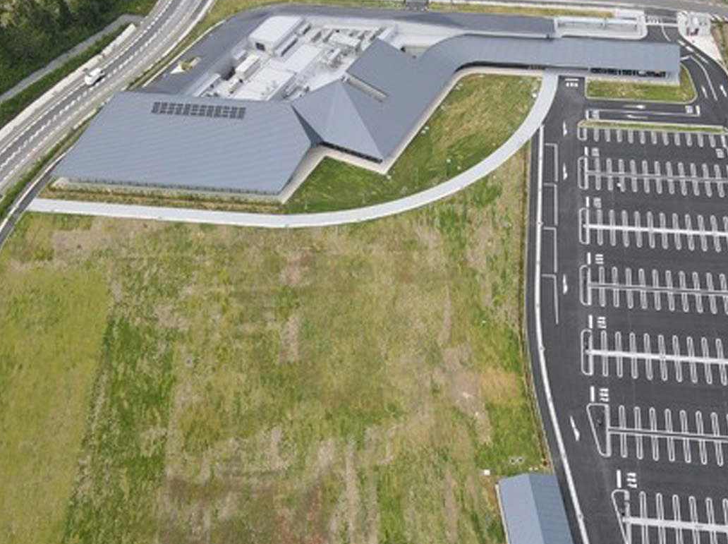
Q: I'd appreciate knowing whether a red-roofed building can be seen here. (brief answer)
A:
No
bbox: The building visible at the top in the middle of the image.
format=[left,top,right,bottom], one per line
[55,5,680,202]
